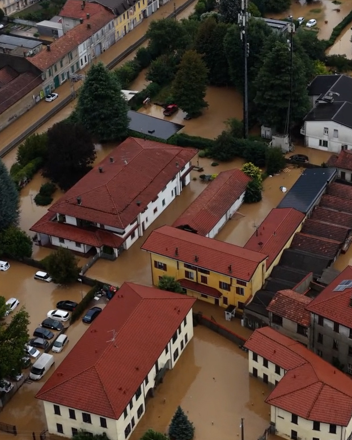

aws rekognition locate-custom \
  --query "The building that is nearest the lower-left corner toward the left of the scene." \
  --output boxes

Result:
[35,283,197,440]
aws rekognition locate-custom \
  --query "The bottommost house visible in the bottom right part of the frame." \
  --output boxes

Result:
[246,326,352,440]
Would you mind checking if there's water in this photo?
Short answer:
Yes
